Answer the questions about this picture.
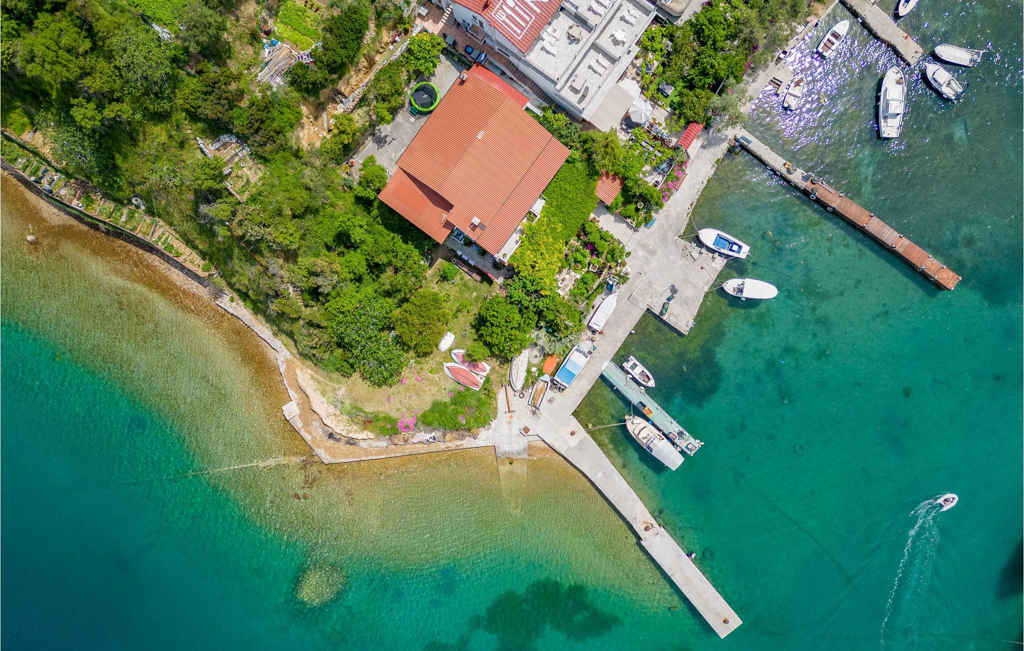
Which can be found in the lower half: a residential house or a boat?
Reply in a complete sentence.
There is a boat in the lower half.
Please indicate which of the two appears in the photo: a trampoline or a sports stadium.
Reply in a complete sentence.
Of the two, only a trampoline appears.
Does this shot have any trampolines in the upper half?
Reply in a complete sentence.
Yes, a trampoline appears in the upper half.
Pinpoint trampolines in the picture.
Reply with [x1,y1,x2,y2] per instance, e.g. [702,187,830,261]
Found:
[407,74,440,115]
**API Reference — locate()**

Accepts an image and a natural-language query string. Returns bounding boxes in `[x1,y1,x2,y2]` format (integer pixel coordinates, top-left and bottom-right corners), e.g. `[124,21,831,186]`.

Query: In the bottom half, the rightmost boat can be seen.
[935,495,958,512]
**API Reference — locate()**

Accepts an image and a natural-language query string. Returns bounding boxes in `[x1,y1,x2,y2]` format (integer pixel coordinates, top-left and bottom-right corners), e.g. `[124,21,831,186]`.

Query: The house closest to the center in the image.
[380,64,570,265]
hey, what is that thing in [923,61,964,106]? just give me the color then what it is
white boat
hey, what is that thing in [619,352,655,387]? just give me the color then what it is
white boat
